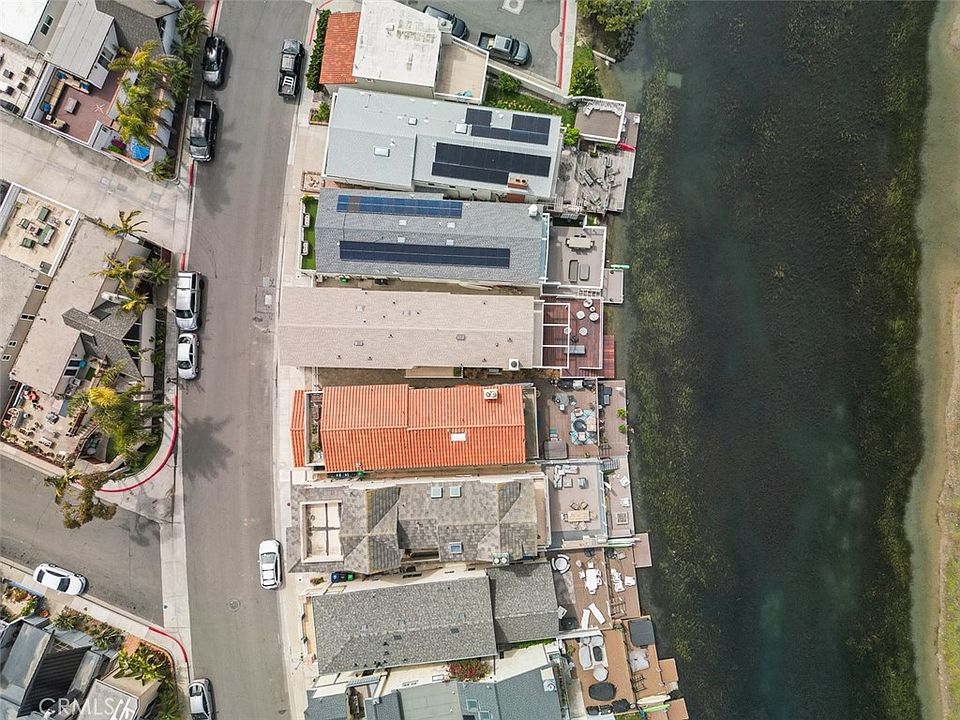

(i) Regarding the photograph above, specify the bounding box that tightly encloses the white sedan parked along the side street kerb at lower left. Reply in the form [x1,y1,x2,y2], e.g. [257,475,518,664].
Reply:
[34,559,91,595]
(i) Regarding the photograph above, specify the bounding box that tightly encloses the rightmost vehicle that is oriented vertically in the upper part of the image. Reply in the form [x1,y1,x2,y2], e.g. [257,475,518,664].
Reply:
[278,40,304,100]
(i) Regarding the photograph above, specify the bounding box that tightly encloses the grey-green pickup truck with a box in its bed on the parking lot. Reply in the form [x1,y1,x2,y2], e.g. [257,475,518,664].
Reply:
[473,27,532,68]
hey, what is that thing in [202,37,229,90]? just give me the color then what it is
black car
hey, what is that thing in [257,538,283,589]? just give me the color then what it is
white car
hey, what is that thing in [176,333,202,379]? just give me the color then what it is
white car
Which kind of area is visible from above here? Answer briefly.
residential area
